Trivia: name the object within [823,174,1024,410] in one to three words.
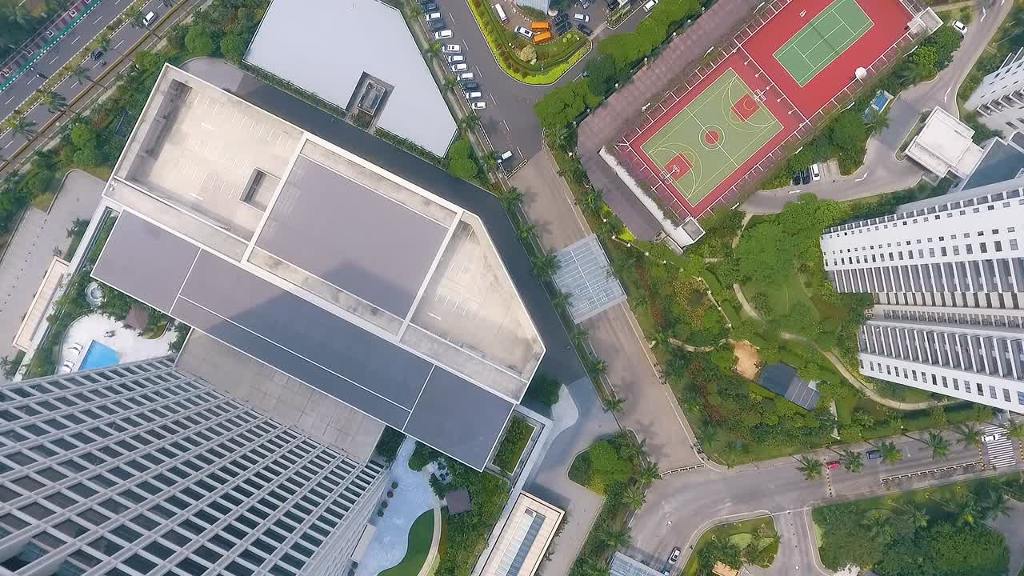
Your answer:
building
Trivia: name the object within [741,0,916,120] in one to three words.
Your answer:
tennis court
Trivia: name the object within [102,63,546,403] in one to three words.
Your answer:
building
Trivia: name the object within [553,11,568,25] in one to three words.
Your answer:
car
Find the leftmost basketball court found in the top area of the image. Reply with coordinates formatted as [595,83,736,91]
[629,47,806,217]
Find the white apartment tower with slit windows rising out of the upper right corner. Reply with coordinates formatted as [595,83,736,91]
[964,39,1024,138]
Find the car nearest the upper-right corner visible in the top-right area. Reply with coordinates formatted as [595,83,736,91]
[952,20,967,33]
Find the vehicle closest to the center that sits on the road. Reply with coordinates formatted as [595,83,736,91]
[498,150,513,162]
